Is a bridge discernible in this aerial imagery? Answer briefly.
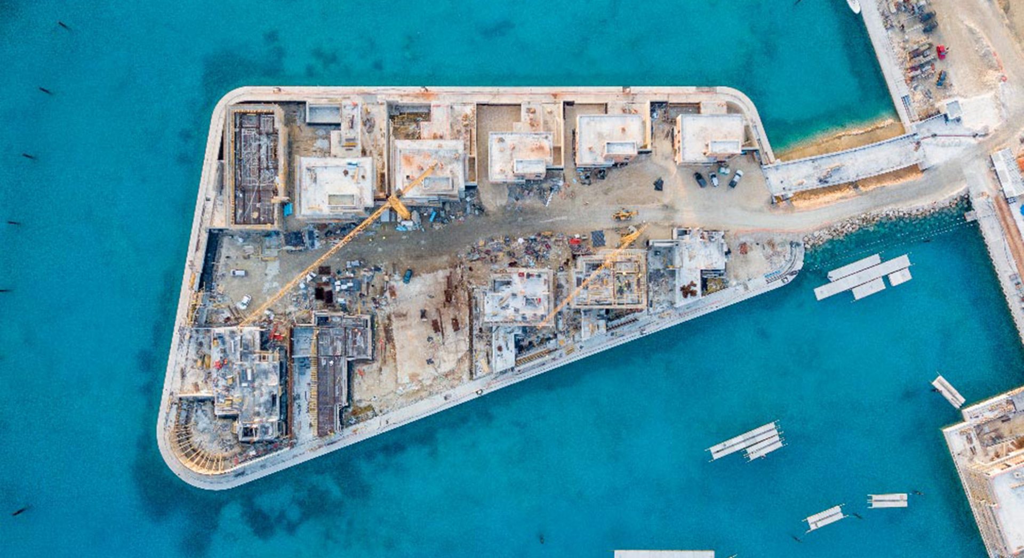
Yes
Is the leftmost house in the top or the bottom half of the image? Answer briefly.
top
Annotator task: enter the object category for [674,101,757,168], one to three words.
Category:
house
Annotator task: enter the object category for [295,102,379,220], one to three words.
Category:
house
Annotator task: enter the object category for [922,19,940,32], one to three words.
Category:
vehicle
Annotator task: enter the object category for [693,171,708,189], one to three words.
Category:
vehicle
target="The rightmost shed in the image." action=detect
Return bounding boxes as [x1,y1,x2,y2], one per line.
[984,148,1024,199]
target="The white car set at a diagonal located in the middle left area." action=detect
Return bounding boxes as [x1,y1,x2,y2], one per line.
[237,293,251,310]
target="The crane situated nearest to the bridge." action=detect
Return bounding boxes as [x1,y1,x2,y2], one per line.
[539,222,649,328]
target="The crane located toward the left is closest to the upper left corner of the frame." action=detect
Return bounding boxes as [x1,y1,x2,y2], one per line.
[238,161,437,329]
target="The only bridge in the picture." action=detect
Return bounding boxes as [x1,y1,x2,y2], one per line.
[762,131,931,208]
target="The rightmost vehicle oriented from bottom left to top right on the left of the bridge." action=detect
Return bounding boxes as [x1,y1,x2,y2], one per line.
[728,168,744,188]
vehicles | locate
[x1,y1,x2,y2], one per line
[920,9,938,22]
[709,172,718,187]
[403,268,412,284]
[937,42,948,59]
[728,168,744,188]
[936,68,951,87]
[231,269,246,276]
[237,293,251,310]
[922,19,940,32]
[693,171,708,189]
